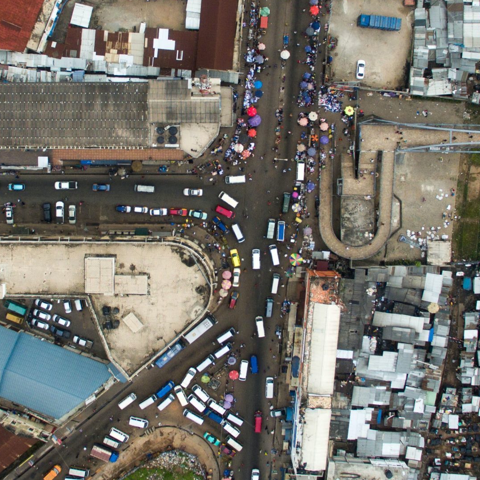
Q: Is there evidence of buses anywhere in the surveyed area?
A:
Yes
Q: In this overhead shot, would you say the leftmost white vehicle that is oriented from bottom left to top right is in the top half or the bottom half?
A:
bottom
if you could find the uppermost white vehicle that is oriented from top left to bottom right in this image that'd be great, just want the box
[218,190,239,209]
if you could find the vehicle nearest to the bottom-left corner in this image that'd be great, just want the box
[43,463,63,480]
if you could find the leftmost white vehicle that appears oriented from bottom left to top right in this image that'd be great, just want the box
[118,391,139,411]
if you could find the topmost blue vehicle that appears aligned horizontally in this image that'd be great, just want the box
[359,17,399,30]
